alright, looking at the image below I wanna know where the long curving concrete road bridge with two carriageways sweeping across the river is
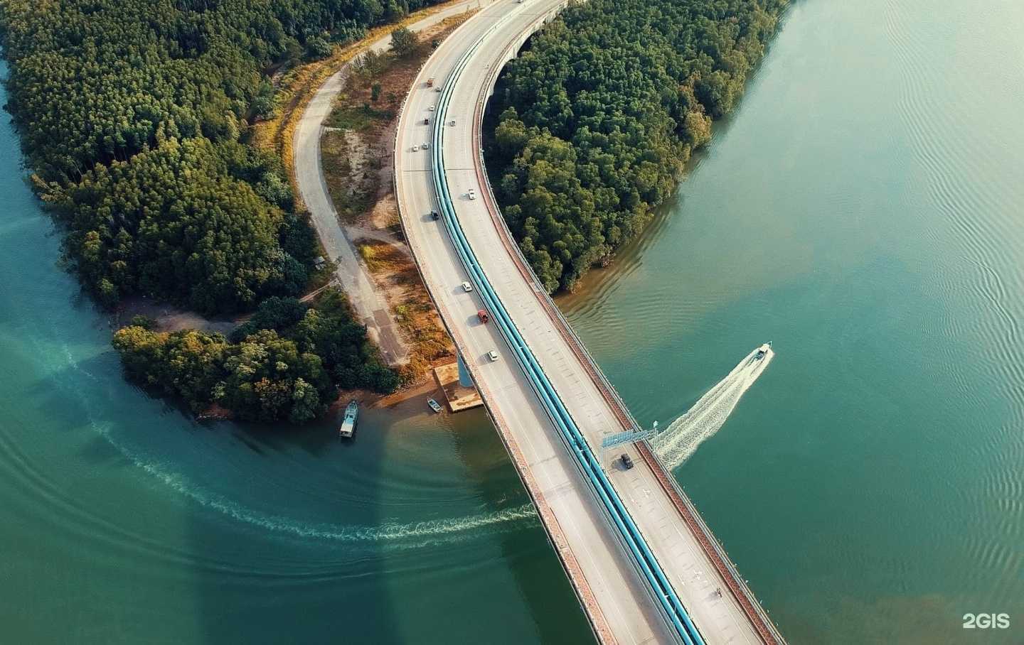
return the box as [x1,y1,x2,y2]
[393,0,789,645]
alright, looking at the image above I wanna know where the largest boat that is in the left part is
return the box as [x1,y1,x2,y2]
[338,398,355,436]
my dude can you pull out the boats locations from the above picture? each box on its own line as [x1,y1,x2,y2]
[338,398,355,436]
[428,398,443,414]
[756,339,773,359]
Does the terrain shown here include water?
Yes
